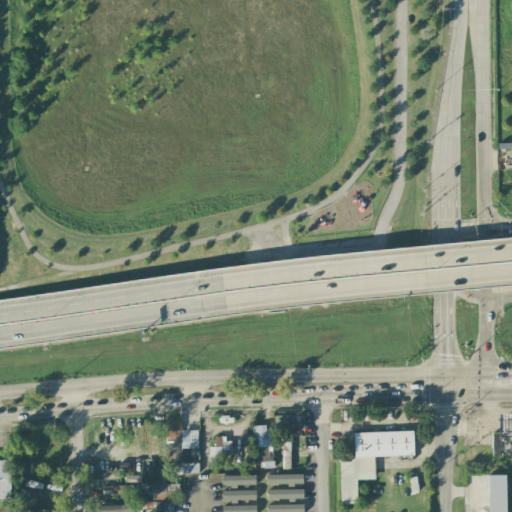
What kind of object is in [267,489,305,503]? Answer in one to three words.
building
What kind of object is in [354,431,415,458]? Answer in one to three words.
building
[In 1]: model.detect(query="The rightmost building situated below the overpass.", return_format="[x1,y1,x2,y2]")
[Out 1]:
[470,474,508,512]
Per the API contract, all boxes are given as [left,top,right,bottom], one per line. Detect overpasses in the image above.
[0,237,512,348]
